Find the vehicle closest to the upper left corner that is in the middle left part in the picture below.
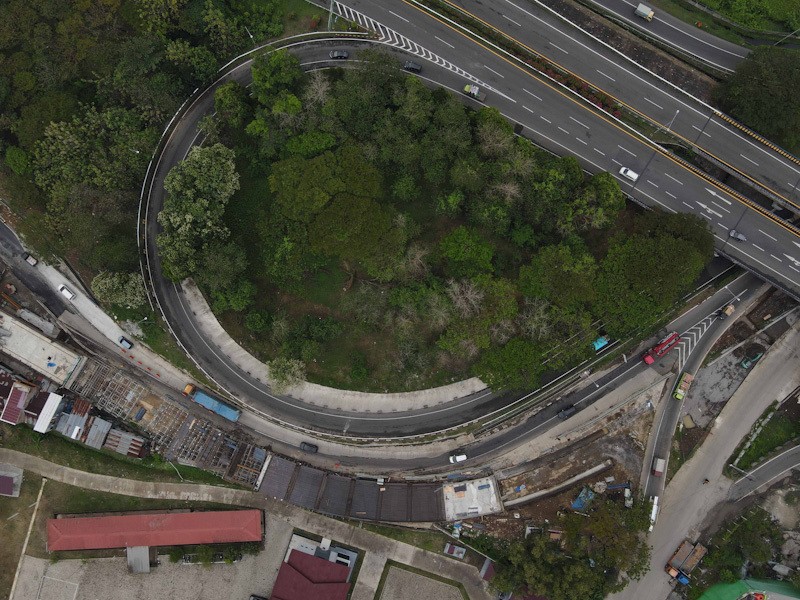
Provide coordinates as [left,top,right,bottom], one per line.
[18,249,38,267]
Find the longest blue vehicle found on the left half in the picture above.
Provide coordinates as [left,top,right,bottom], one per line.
[181,384,240,423]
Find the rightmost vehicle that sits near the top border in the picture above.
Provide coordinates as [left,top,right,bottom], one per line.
[632,0,659,20]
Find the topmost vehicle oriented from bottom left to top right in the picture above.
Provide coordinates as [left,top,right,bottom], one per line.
[715,301,741,323]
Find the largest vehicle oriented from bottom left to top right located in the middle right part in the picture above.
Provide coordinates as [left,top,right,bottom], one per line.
[641,330,687,365]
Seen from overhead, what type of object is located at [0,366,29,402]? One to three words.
shed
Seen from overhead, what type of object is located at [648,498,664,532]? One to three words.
vehicle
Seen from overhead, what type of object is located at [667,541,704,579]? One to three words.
truck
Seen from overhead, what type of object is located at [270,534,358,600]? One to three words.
house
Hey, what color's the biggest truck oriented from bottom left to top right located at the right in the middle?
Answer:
red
